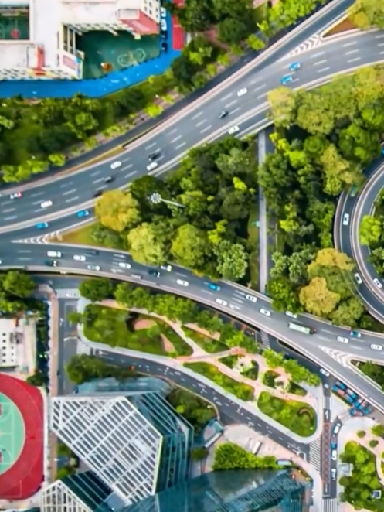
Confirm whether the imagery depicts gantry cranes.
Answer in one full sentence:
No, no gantry crane is visible in the view.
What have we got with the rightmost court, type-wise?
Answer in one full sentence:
It looks like the rightmost court is a basketball court.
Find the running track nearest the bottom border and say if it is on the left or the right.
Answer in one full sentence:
The running track nearest the bottom border appears in the left half of the scene.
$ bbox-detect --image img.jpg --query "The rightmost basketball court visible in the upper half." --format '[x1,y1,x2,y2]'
[81,28,159,79]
